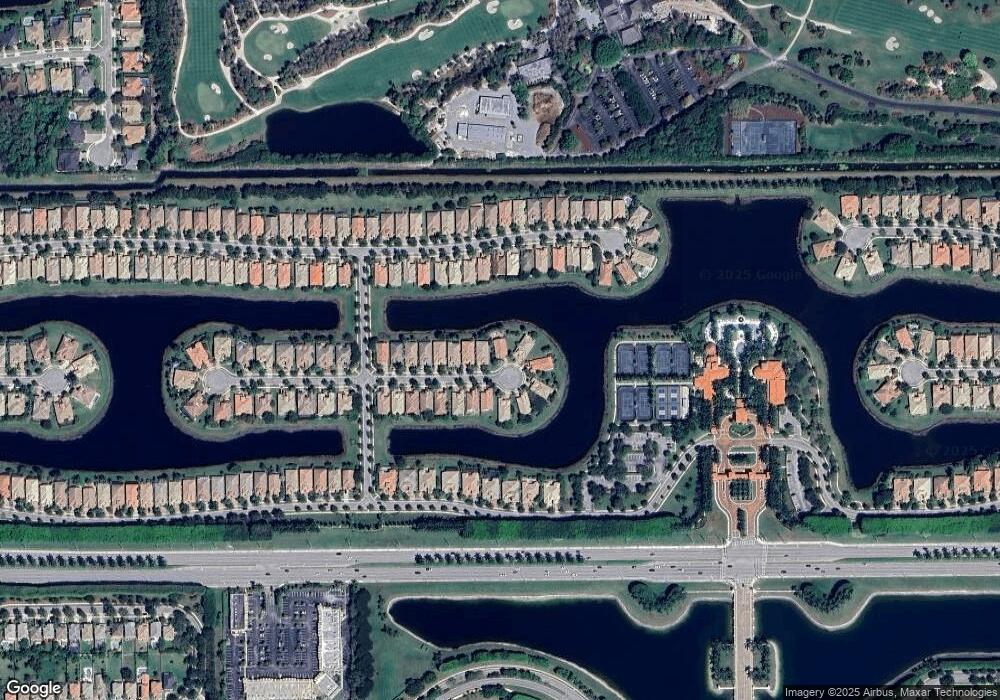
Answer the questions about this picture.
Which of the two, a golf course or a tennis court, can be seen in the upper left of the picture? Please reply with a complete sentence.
There is a golf course in the upper left of the picture.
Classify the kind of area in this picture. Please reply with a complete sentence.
The picture captures a residential area.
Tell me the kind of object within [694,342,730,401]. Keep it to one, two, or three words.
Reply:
building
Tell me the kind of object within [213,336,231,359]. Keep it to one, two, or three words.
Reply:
house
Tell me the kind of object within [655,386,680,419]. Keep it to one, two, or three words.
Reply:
sports court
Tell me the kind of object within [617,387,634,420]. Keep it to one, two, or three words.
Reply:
tennis court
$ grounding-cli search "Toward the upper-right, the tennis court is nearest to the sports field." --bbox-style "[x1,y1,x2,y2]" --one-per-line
[783,120,797,154]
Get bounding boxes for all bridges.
[717,581,769,700]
